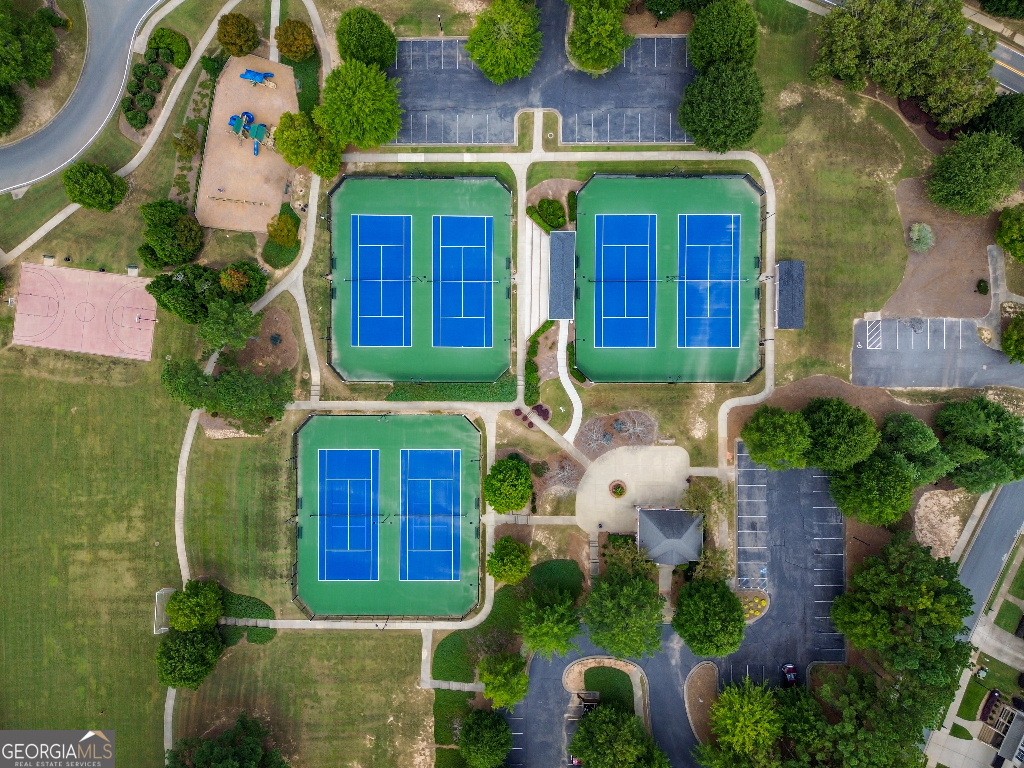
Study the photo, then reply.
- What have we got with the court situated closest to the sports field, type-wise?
basketball court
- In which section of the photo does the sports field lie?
bottom left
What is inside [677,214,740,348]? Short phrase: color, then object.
blue tennis court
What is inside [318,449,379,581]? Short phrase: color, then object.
blue tennis court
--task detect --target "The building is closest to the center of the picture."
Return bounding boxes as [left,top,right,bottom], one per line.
[548,230,576,321]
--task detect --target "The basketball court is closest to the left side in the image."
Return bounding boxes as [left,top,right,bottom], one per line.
[12,262,157,361]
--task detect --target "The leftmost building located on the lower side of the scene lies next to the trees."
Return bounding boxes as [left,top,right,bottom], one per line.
[635,505,703,567]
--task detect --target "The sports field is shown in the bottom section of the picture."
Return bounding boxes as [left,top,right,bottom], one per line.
[0,367,183,768]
